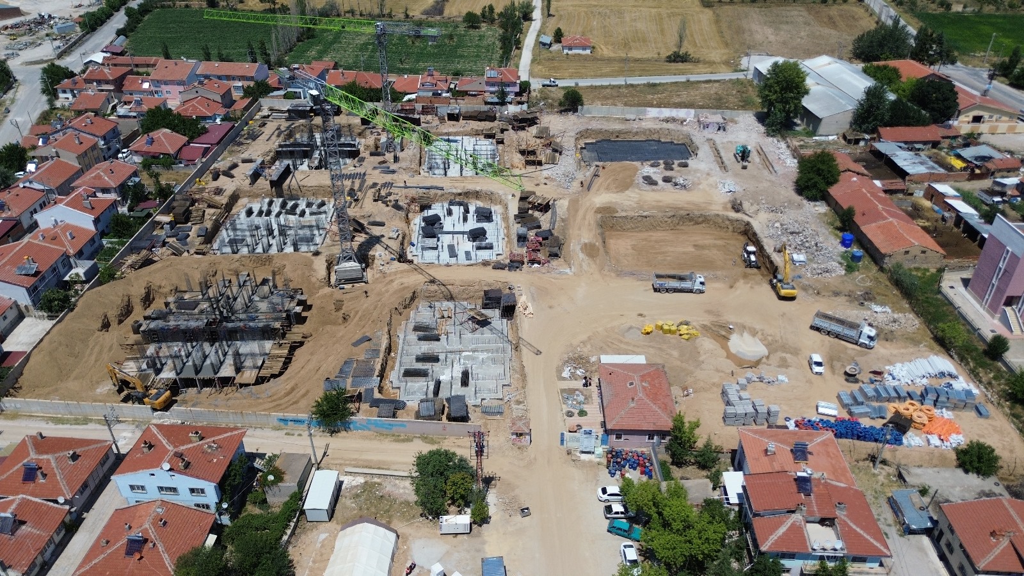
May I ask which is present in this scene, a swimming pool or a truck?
truck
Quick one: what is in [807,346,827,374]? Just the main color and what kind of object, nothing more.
white vehicle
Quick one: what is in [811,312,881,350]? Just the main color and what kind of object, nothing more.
gray truck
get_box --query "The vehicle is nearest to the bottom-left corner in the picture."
[102,359,172,405]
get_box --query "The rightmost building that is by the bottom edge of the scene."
[921,478,1024,576]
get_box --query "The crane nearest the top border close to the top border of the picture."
[204,11,442,152]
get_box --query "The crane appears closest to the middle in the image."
[288,62,530,282]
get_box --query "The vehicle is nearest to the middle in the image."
[653,269,708,293]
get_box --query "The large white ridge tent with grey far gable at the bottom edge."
[321,486,407,576]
